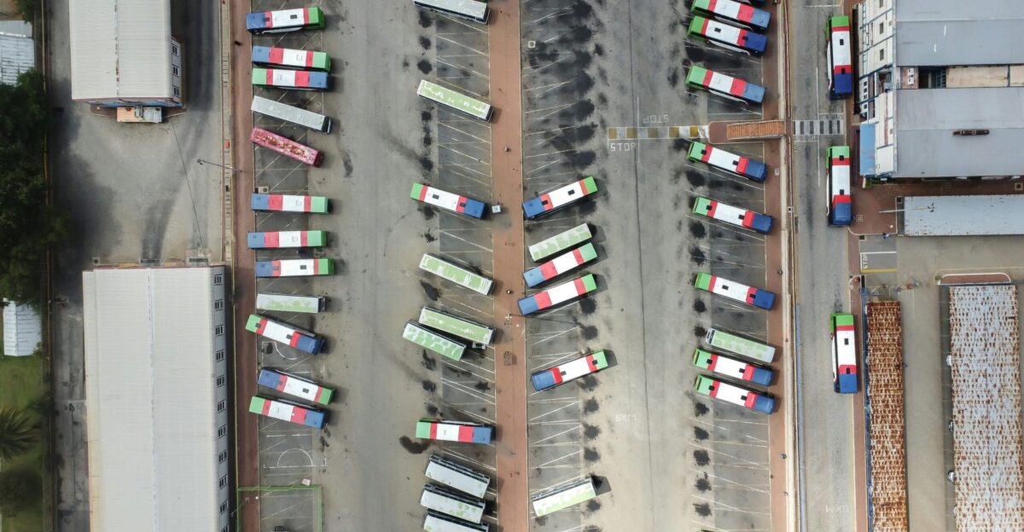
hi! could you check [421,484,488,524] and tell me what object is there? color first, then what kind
white bus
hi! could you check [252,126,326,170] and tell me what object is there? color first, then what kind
pink bus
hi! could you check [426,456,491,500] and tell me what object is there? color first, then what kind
white bus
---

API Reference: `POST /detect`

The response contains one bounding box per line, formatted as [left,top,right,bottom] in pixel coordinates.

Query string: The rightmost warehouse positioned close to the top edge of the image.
[859,0,1024,186]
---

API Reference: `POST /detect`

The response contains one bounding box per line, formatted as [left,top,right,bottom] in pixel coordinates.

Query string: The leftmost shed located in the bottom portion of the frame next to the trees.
[3,298,50,357]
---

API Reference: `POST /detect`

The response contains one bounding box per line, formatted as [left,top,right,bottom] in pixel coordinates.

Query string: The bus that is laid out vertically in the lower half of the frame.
[827,313,856,396]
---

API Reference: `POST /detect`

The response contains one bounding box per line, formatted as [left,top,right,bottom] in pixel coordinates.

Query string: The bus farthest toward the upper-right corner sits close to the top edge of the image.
[823,16,851,101]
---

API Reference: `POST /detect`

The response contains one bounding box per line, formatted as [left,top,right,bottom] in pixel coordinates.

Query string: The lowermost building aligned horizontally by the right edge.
[896,195,1024,236]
